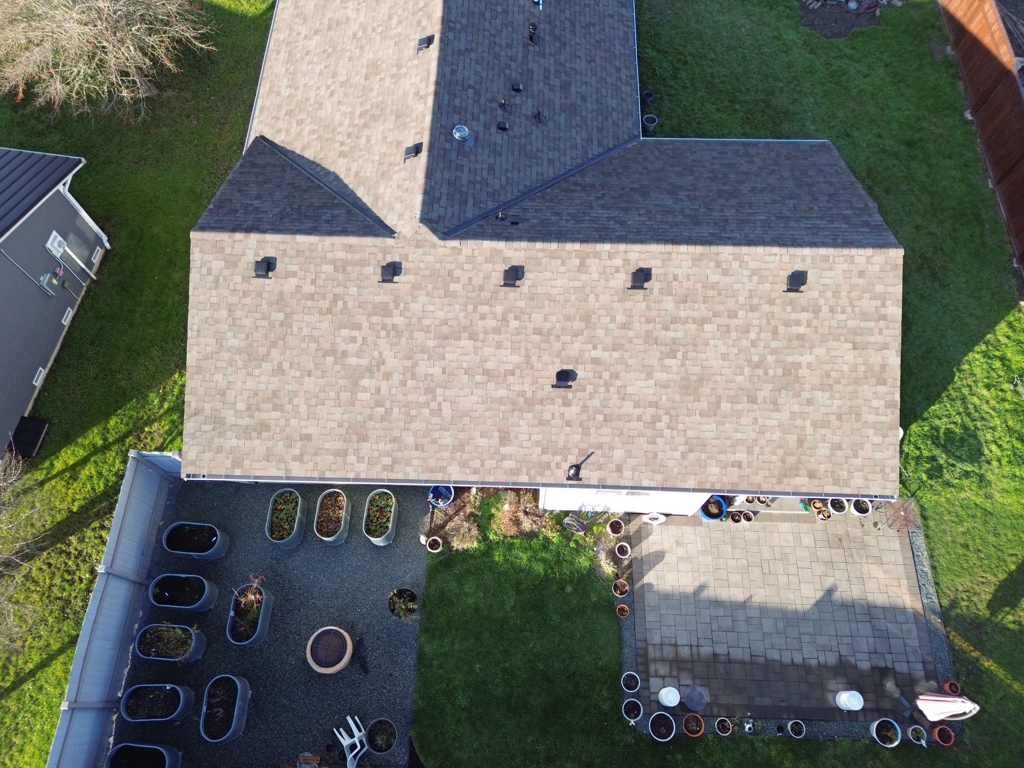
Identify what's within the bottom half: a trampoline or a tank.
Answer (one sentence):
What appears within the bottom half is a tank.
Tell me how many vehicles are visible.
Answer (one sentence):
The count of vehicles is 0.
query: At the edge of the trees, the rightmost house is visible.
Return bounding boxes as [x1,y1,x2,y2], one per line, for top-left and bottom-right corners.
[182,0,909,516]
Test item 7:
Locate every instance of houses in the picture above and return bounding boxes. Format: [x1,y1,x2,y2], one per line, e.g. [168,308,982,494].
[182,0,909,516]
[0,138,121,454]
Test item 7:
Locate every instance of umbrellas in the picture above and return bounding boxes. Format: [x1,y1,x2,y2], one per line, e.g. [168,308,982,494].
[892,688,983,726]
